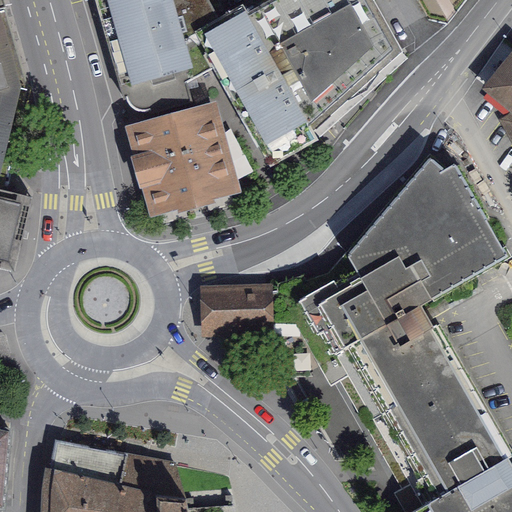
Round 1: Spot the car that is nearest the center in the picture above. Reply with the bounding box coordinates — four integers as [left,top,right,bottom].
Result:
[212,230,236,243]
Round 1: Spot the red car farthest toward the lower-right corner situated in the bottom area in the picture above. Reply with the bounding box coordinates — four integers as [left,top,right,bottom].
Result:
[253,404,274,423]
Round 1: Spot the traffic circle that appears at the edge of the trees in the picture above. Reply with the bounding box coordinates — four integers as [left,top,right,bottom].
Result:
[15,171,234,416]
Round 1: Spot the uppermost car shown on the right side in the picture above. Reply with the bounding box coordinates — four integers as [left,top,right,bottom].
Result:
[390,17,408,40]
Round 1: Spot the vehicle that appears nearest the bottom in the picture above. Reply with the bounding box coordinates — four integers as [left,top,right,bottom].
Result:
[299,446,318,466]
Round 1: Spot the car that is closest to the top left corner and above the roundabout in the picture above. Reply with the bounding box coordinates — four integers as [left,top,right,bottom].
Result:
[63,36,76,60]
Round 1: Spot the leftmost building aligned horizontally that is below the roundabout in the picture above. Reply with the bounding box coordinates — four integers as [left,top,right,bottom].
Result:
[40,440,186,512]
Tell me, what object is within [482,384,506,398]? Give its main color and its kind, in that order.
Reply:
gray car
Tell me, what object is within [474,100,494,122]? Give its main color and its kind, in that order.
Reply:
white car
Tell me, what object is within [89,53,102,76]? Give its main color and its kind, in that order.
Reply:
white vehicle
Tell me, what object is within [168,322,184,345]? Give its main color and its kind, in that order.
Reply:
blue car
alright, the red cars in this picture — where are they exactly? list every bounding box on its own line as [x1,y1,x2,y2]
[253,404,274,423]
[42,218,54,240]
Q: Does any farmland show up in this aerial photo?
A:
No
